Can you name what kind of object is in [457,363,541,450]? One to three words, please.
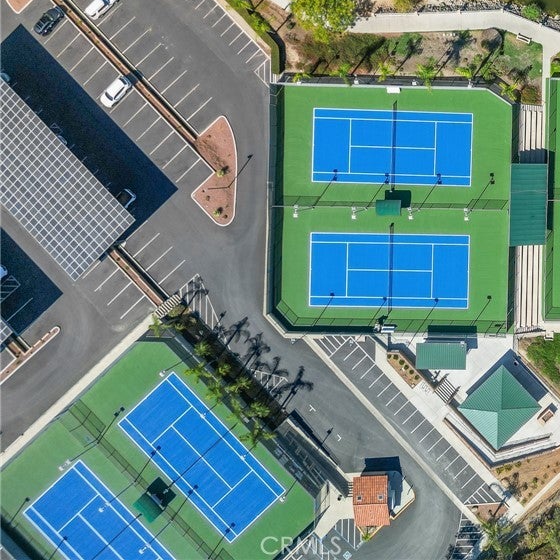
building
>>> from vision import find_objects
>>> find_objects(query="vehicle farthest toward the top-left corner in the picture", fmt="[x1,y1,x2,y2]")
[26,5,62,35]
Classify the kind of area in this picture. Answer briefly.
sports ground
